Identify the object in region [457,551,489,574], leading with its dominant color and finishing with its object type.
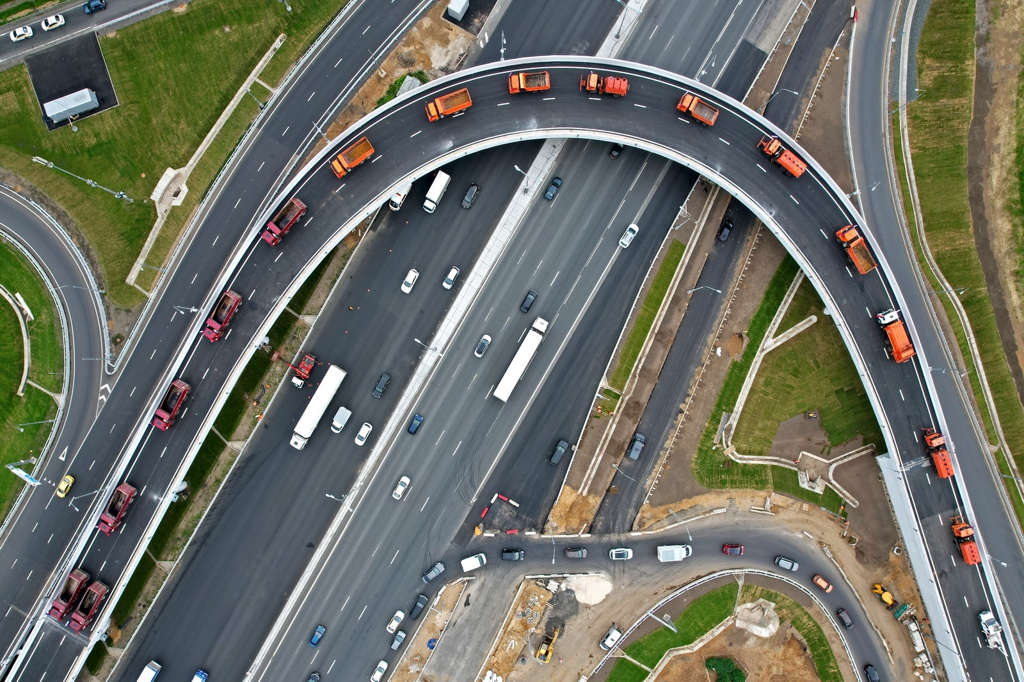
white vehicle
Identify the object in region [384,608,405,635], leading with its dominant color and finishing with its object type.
white car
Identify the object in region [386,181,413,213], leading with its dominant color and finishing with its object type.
white truck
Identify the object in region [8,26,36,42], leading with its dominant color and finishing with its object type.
white car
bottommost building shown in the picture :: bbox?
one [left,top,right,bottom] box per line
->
[43,88,99,120]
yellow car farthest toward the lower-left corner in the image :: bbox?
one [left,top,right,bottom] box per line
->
[56,472,77,498]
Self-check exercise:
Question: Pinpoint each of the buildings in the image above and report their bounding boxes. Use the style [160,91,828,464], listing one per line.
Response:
[43,88,99,120]
[447,0,469,20]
